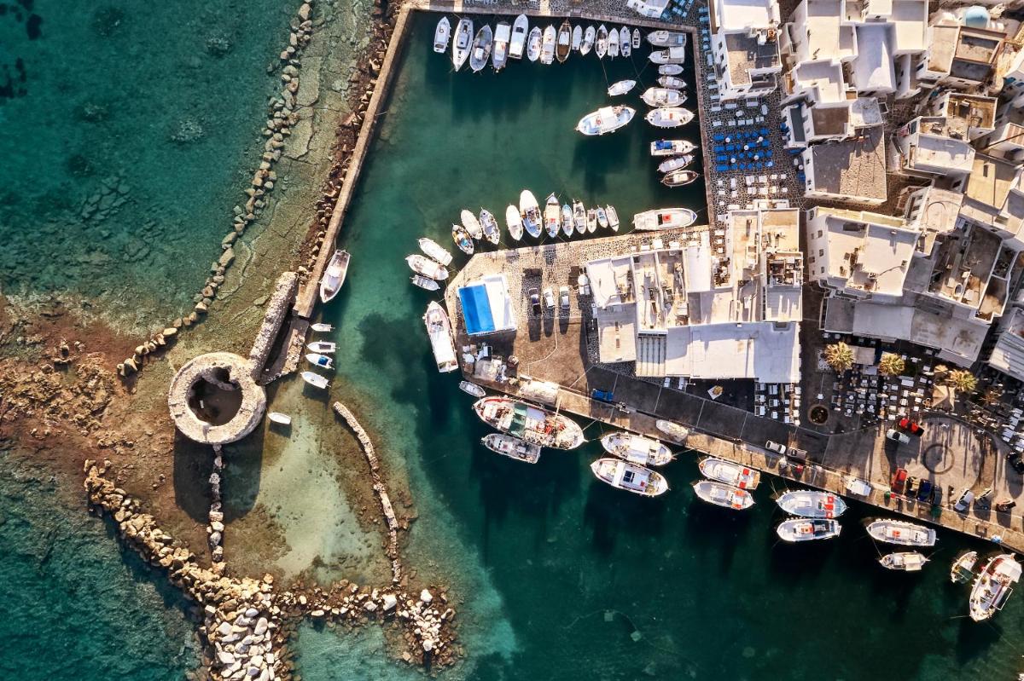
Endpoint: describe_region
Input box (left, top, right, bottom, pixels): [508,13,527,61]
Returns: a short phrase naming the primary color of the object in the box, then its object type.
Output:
white boat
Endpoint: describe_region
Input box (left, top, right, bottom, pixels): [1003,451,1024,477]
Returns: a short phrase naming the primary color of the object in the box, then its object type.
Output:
black car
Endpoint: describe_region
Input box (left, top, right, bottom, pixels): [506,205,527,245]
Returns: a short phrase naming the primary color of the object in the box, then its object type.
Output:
white boat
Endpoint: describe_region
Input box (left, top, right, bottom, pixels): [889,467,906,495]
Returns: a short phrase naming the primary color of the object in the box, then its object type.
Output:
red car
